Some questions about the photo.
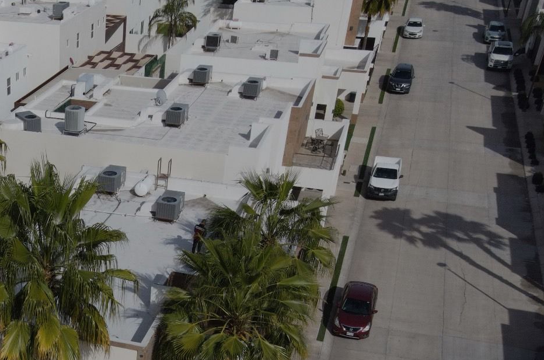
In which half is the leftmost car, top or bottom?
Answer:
bottom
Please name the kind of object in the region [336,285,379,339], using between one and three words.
car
